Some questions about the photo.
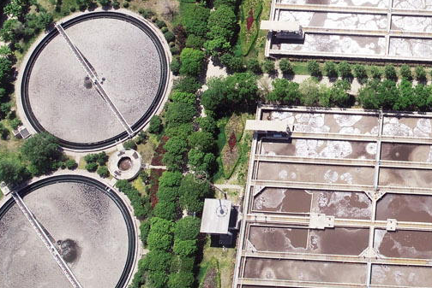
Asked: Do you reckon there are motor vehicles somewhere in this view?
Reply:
No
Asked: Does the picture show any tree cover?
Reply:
Yes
